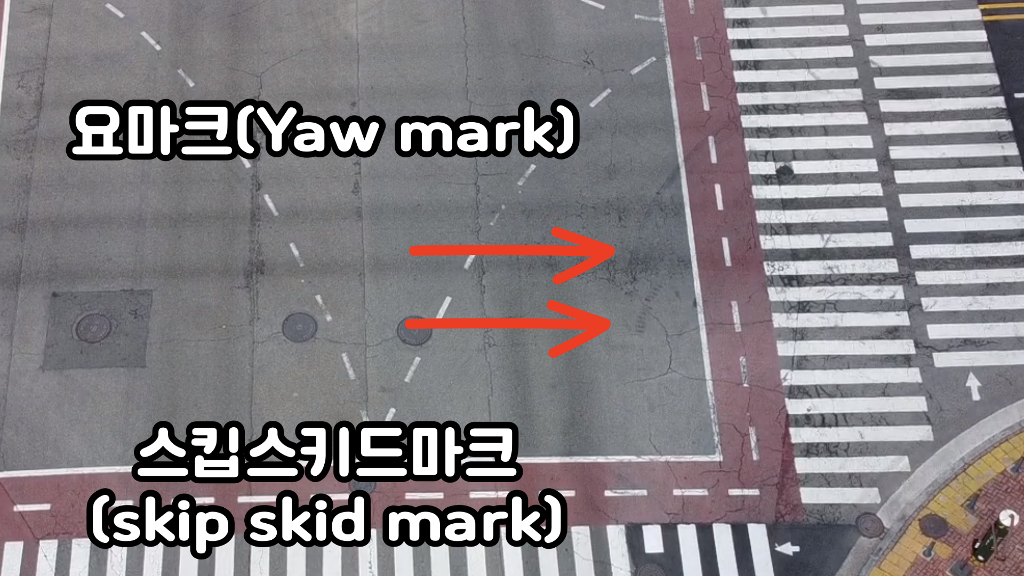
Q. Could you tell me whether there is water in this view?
No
